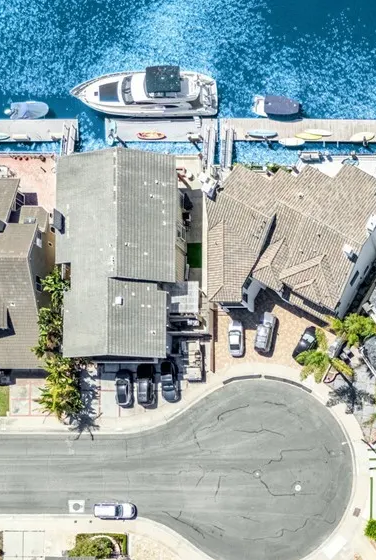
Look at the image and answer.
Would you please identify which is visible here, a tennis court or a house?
house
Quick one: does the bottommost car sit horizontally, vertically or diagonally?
horizontally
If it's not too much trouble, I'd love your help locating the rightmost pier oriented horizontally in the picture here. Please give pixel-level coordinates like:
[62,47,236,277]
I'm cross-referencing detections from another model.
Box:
[220,119,376,143]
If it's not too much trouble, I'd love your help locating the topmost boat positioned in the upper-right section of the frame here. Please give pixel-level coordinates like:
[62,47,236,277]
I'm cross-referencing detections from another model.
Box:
[250,96,302,116]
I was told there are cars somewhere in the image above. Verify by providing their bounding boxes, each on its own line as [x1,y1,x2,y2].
[96,500,138,520]
[134,364,157,405]
[114,370,135,406]
[226,318,247,358]
[160,361,181,401]
[254,312,279,355]
[290,324,318,362]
